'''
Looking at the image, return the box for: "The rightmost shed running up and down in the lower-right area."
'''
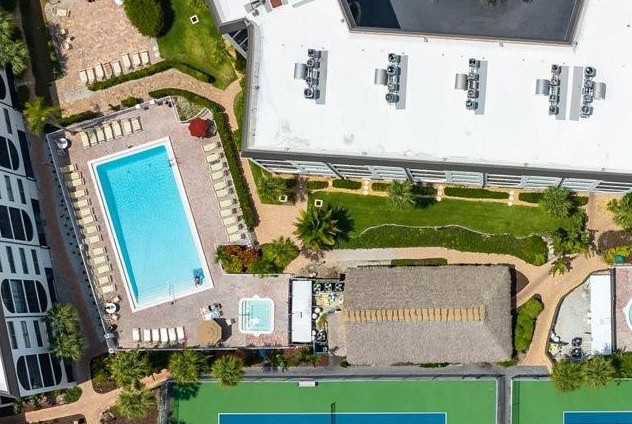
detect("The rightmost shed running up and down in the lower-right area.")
[590,275,611,354]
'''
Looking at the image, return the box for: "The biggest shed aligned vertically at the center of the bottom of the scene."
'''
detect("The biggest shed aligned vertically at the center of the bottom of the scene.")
[292,281,313,342]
